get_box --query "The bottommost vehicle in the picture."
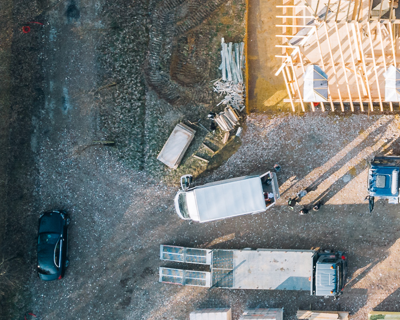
[161,247,348,297]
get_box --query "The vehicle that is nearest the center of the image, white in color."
[170,170,287,227]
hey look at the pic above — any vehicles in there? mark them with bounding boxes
[161,247,348,297]
[33,208,74,280]
[366,156,400,214]
[170,170,287,227]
